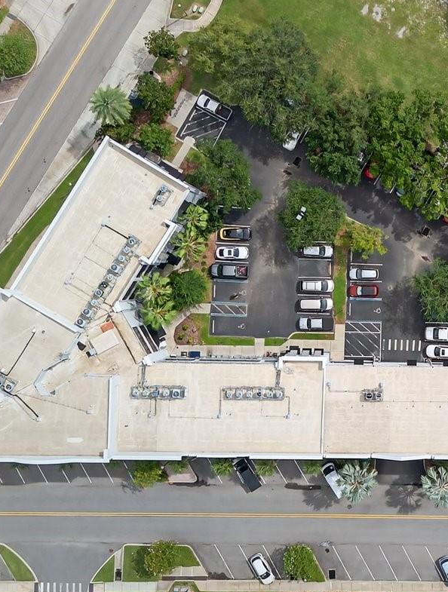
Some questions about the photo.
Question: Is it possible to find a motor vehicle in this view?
Yes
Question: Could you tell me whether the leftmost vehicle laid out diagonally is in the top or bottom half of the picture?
top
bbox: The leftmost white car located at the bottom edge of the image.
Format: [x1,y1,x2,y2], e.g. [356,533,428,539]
[250,551,275,584]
